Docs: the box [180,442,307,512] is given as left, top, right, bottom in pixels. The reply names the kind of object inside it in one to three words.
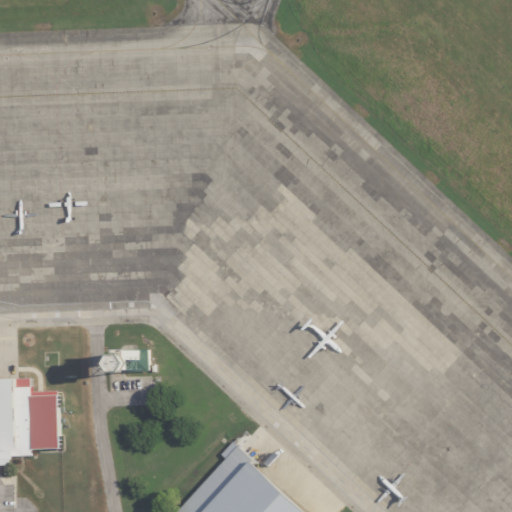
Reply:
hangar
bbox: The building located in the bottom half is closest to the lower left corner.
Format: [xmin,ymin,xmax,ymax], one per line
[0,378,60,466]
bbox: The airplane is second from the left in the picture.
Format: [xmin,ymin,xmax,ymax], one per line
[48,193,86,223]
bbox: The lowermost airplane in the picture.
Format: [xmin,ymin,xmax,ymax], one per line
[377,474,408,506]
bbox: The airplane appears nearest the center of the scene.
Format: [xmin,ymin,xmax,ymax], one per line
[301,318,344,360]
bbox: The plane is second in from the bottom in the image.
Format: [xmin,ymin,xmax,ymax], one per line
[276,382,304,411]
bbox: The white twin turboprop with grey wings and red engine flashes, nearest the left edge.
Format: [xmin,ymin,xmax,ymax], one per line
[2,202,36,236]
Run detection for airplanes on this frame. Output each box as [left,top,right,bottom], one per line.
[301,318,344,360]
[48,193,86,223]
[276,382,304,411]
[377,474,408,506]
[2,202,36,236]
